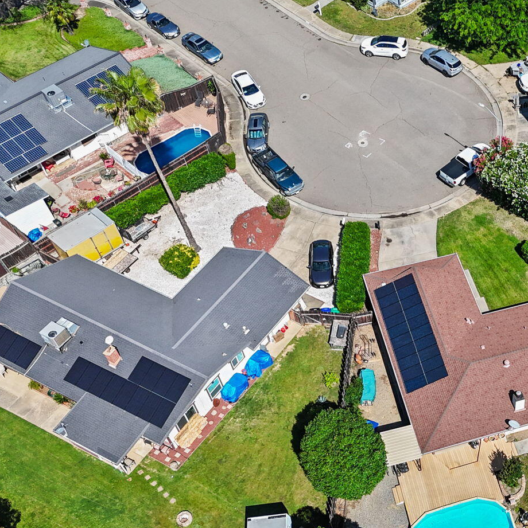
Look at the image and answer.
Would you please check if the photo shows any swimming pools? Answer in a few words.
Yes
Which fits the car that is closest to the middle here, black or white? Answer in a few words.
black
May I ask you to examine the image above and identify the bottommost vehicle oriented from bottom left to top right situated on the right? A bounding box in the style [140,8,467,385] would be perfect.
[436,141,490,186]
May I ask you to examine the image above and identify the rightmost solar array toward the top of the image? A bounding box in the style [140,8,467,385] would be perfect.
[76,64,131,107]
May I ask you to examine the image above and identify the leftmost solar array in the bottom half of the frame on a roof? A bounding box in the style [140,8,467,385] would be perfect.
[0,326,41,368]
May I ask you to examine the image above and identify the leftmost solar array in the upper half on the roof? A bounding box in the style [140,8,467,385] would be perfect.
[0,112,46,162]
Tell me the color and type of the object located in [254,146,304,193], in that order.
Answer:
blue truck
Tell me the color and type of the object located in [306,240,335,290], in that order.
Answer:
black car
